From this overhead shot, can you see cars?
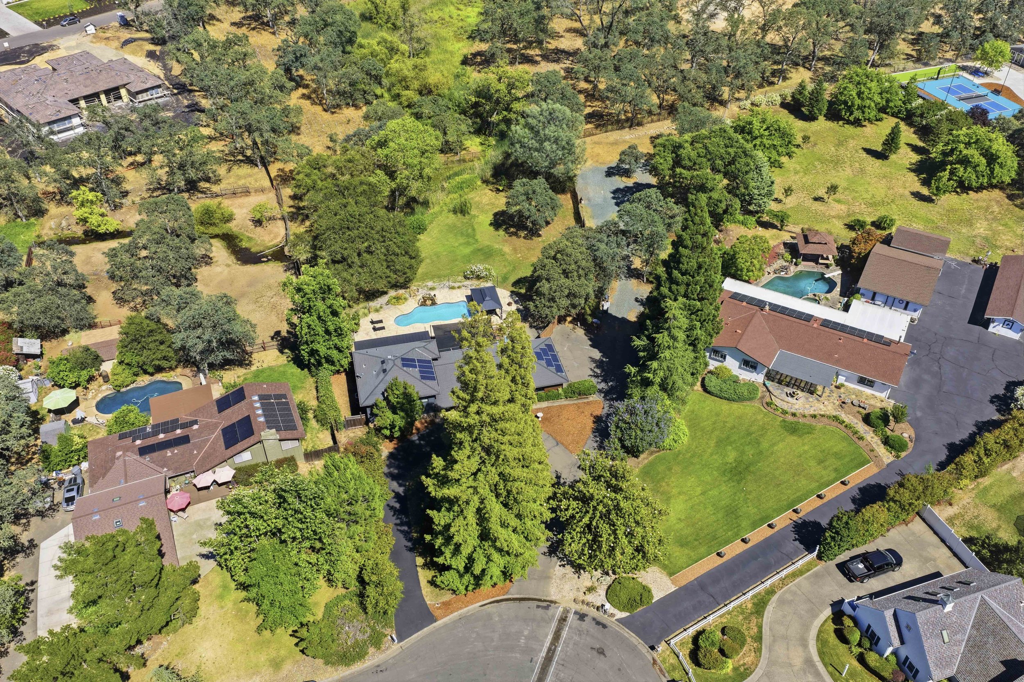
Yes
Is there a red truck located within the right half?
No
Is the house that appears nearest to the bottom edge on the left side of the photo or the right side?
right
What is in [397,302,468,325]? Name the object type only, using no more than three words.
swimming pool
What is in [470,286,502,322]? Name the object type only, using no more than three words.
gazebo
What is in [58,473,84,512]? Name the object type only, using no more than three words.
car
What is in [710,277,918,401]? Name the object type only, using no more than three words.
house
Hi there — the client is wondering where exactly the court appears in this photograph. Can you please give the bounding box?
[919,75,1022,120]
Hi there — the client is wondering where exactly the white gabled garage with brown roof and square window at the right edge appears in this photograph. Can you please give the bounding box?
[980,254,1024,349]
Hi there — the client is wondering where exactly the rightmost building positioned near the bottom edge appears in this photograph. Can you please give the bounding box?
[852,568,1024,682]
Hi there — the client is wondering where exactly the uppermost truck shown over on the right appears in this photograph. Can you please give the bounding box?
[844,548,908,584]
